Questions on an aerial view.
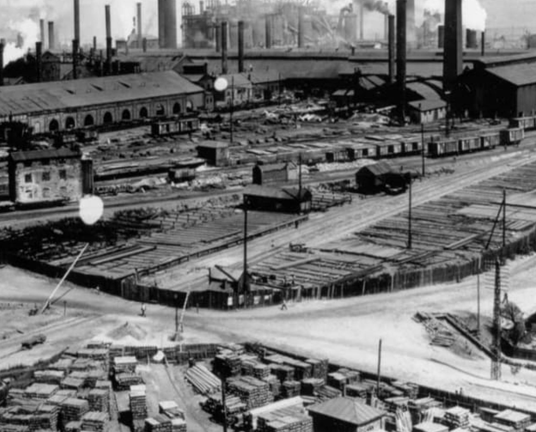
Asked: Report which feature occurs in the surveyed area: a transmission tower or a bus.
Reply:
transmission tower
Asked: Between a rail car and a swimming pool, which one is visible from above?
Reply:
rail car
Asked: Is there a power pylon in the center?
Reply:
No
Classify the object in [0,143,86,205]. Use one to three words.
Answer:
house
